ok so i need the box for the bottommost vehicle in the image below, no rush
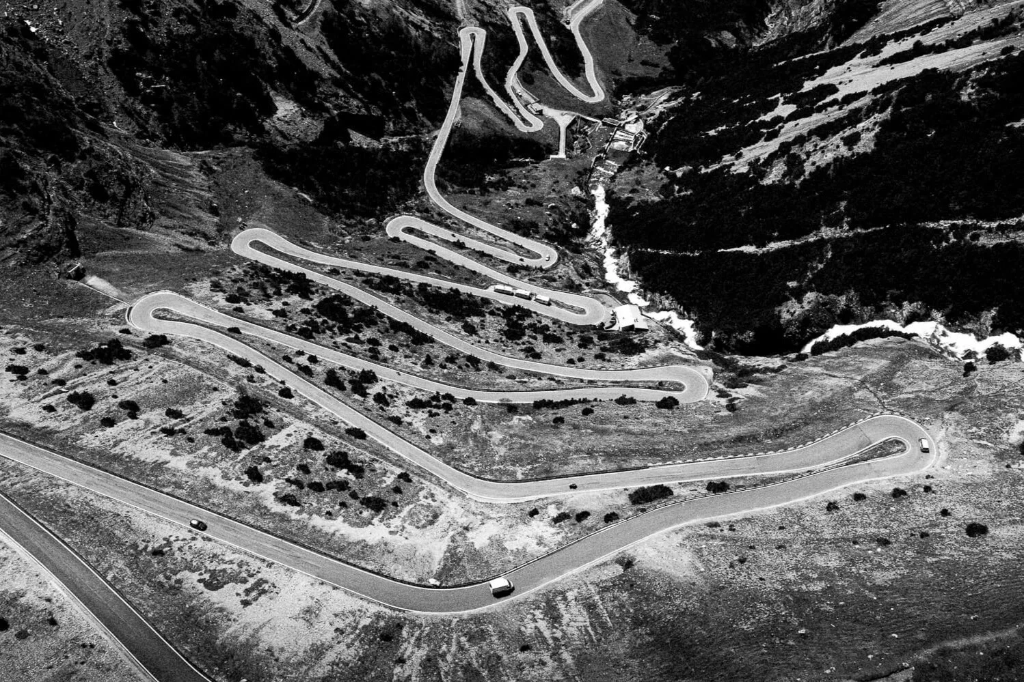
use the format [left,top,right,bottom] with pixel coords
[489,580,514,594]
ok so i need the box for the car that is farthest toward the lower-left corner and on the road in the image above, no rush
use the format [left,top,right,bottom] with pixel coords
[188,518,208,531]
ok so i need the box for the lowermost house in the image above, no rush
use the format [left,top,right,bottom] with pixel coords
[612,302,650,333]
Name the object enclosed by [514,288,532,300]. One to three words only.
vehicle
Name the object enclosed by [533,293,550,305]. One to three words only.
vehicle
